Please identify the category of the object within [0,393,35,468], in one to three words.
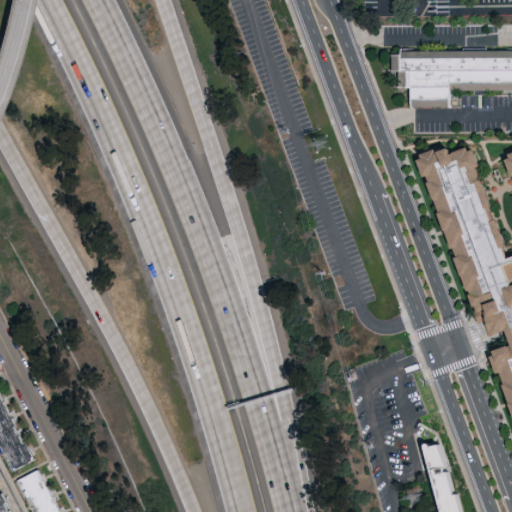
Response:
building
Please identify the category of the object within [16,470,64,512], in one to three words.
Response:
building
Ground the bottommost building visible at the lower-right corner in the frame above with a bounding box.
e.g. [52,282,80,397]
[421,443,467,512]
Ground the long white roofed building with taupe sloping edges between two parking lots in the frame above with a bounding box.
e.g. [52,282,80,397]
[391,47,512,108]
